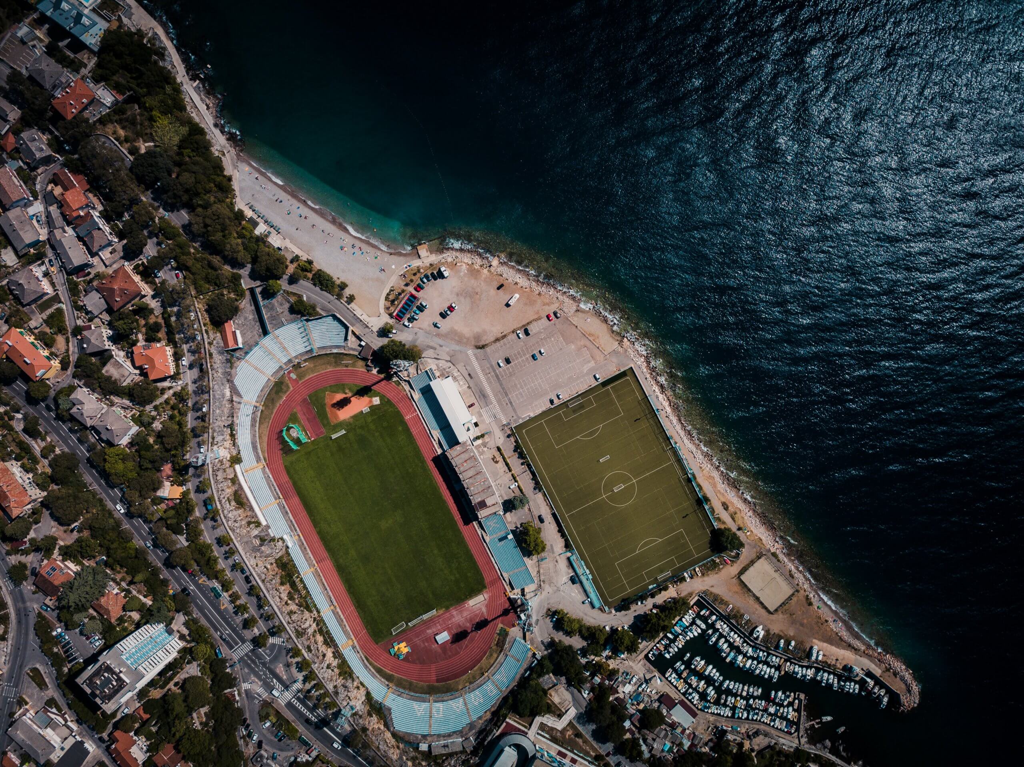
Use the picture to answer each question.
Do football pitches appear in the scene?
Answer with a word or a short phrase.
Yes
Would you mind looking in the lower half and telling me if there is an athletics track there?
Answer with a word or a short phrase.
Yes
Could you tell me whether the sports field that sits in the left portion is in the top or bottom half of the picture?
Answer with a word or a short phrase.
bottom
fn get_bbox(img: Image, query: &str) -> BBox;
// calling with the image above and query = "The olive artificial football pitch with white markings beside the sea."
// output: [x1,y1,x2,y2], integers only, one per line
[514,367,717,612]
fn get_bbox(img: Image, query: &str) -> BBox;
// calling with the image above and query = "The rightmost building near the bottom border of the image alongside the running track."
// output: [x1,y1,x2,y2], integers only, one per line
[479,704,597,767]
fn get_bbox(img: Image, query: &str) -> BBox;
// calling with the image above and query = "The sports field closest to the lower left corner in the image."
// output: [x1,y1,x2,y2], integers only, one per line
[281,383,486,644]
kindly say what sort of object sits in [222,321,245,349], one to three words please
building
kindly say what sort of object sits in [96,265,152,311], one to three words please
house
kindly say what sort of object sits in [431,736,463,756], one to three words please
building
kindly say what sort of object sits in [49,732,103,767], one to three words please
house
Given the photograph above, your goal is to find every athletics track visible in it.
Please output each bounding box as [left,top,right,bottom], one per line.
[258,351,522,696]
